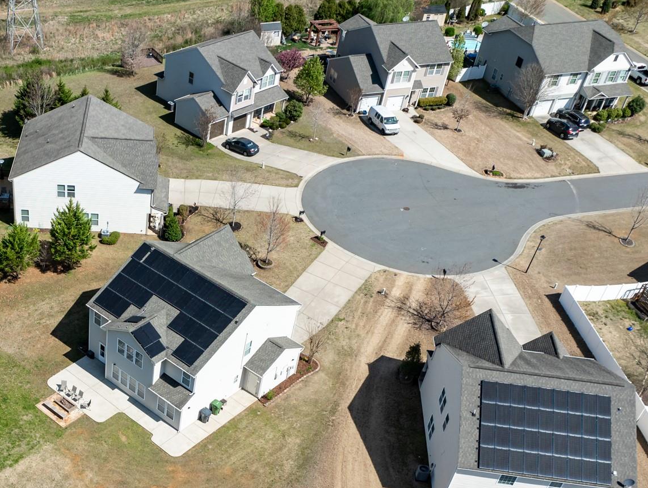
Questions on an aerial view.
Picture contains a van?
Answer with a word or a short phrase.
Yes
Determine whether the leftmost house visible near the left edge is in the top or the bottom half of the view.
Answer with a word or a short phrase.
top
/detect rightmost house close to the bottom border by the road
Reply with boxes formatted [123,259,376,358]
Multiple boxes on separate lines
[413,308,639,488]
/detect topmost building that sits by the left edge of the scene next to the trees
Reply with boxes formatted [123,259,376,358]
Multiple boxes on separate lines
[7,94,171,235]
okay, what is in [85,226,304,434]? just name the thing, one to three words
house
